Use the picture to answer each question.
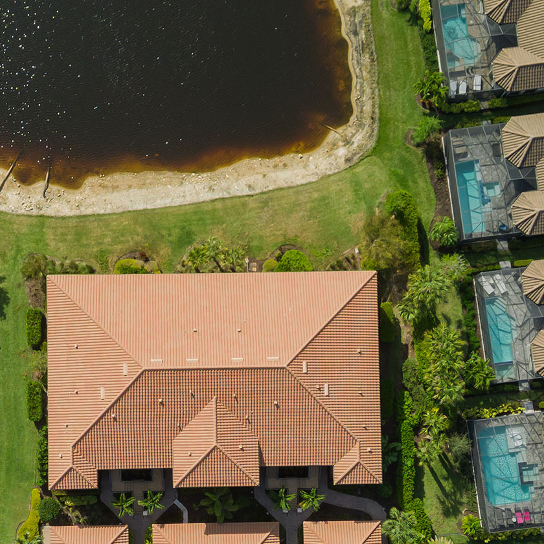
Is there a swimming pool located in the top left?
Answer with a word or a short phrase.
No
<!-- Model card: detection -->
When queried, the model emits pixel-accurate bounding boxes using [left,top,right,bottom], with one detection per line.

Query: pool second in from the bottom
[485,295,519,379]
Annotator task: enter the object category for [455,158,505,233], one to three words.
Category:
swimming pool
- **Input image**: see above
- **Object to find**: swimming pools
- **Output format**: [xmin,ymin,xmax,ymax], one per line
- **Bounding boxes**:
[439,1,483,67]
[455,158,505,233]
[485,295,519,379]
[478,425,541,506]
